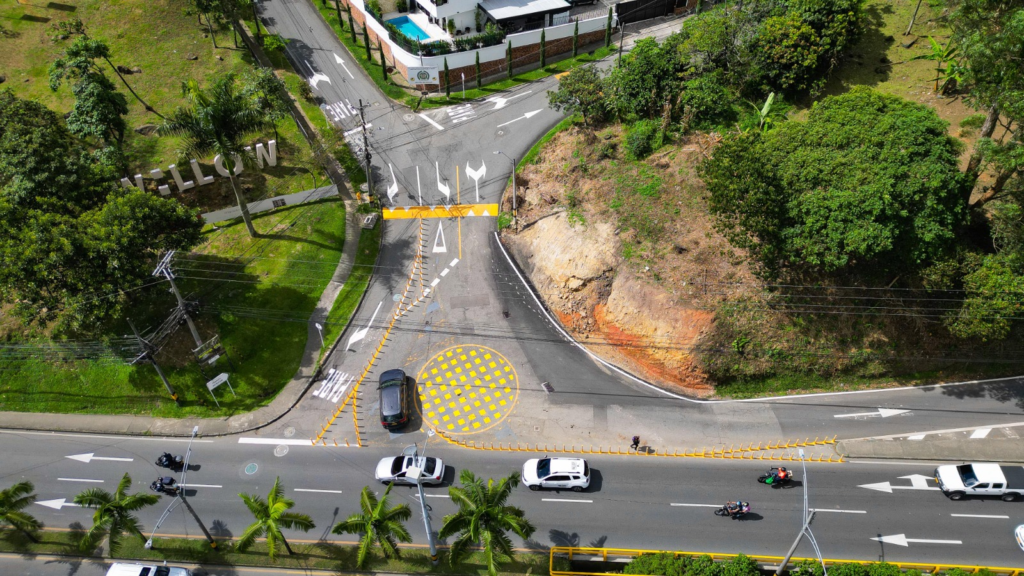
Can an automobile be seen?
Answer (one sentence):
Yes, the frame does contain an automobile.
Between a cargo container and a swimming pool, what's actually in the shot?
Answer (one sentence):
The one in the frame is a swimming pool.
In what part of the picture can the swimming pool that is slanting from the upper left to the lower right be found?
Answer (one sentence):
The swimming pool that is slanting from the upper left to the lower right sits in the top section of the image.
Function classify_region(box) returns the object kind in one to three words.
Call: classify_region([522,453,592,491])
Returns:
car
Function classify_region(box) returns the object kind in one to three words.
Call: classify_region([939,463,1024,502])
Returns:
truck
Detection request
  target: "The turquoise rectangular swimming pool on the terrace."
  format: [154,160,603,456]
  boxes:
[389,13,435,41]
